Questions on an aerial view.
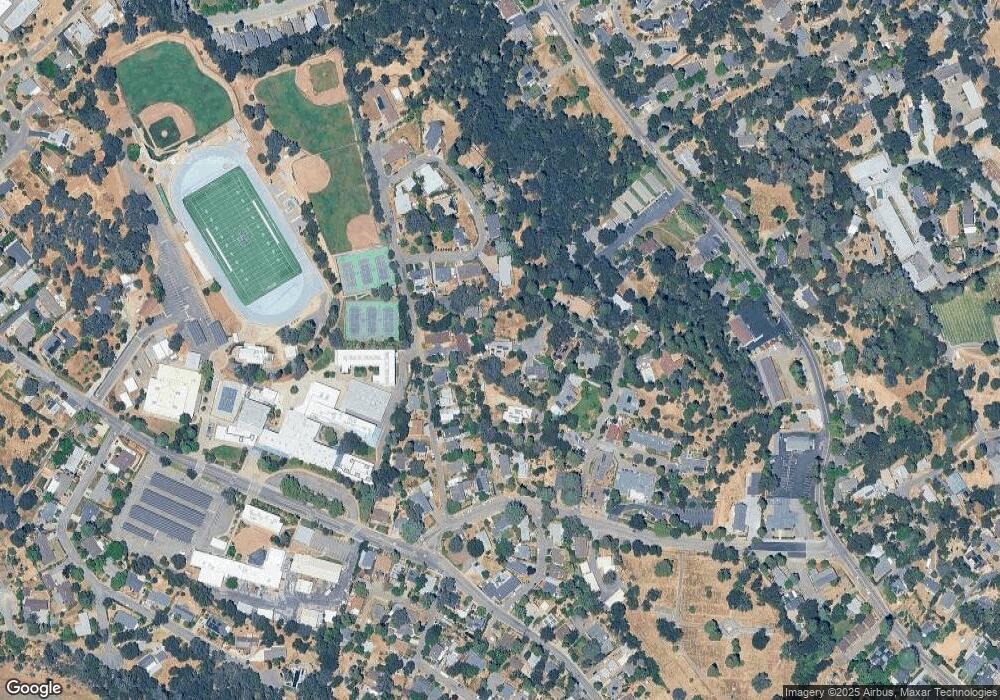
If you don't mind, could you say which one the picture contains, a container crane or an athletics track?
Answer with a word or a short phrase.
athletics track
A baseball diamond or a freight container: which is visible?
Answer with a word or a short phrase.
baseball diamond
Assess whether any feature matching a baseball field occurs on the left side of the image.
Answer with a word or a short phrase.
Yes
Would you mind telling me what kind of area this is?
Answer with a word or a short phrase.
residential area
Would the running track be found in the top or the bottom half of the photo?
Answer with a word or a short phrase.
top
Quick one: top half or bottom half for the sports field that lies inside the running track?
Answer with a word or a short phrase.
top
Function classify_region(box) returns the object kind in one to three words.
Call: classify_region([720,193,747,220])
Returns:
house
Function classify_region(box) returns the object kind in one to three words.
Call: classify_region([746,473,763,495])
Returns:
building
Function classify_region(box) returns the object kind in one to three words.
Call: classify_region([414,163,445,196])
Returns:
building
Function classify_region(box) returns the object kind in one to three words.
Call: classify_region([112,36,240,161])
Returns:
baseball field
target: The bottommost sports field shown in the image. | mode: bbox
[184,168,300,304]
